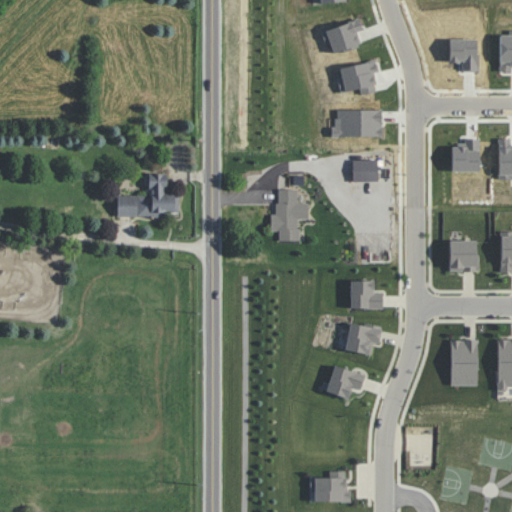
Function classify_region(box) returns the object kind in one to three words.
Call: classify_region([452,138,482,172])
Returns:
house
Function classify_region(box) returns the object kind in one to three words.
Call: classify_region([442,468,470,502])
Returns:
basketball court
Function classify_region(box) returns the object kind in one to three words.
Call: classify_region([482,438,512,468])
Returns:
basketball court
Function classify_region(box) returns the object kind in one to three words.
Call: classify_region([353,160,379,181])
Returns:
building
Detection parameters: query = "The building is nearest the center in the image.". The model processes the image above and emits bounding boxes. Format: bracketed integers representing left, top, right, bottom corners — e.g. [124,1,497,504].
[272,190,309,242]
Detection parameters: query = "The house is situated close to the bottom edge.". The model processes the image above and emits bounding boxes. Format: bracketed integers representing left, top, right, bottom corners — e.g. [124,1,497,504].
[315,472,351,504]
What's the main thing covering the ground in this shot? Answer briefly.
grass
